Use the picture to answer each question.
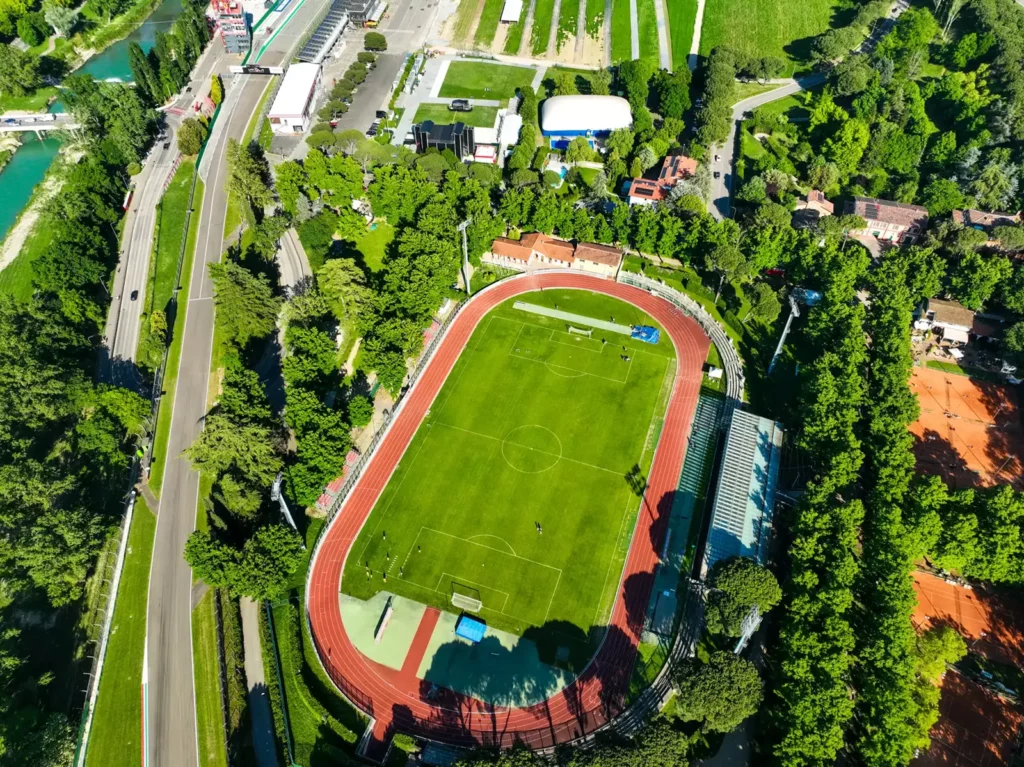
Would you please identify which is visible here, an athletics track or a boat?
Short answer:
athletics track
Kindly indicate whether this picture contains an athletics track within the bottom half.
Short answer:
Yes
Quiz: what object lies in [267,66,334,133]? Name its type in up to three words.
building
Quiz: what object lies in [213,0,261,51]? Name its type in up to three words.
building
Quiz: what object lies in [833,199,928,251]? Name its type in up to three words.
house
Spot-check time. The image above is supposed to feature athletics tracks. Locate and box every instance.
[308,273,712,762]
